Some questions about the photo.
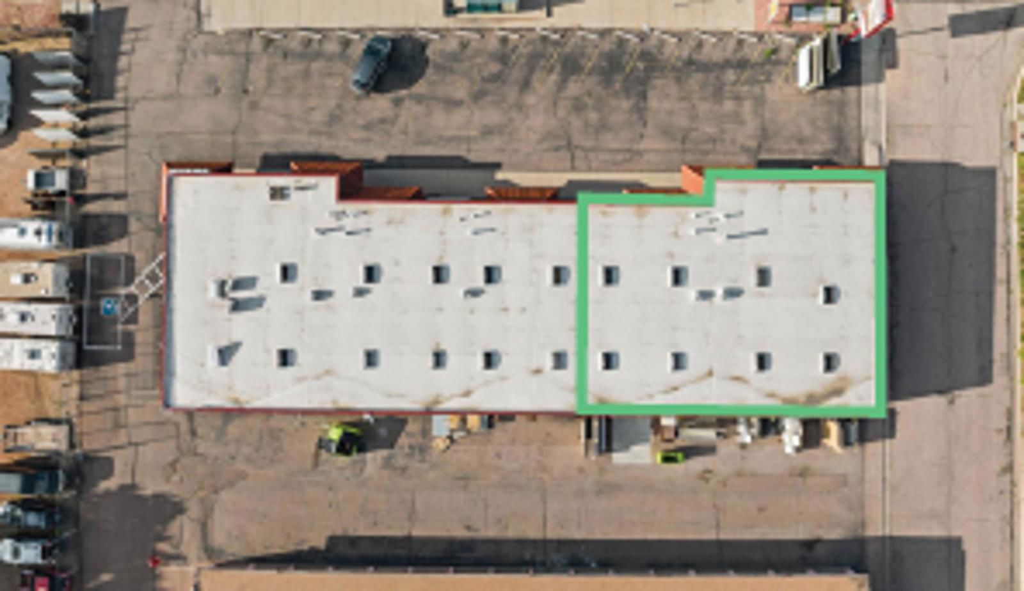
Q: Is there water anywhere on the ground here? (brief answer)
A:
No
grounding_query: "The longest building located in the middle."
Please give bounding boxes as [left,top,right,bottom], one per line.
[161,160,886,419]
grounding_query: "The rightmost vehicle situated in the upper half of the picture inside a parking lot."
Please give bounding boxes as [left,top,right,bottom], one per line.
[353,32,397,95]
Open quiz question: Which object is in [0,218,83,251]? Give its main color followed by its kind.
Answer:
white trailer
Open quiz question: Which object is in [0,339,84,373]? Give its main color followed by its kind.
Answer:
white trailer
